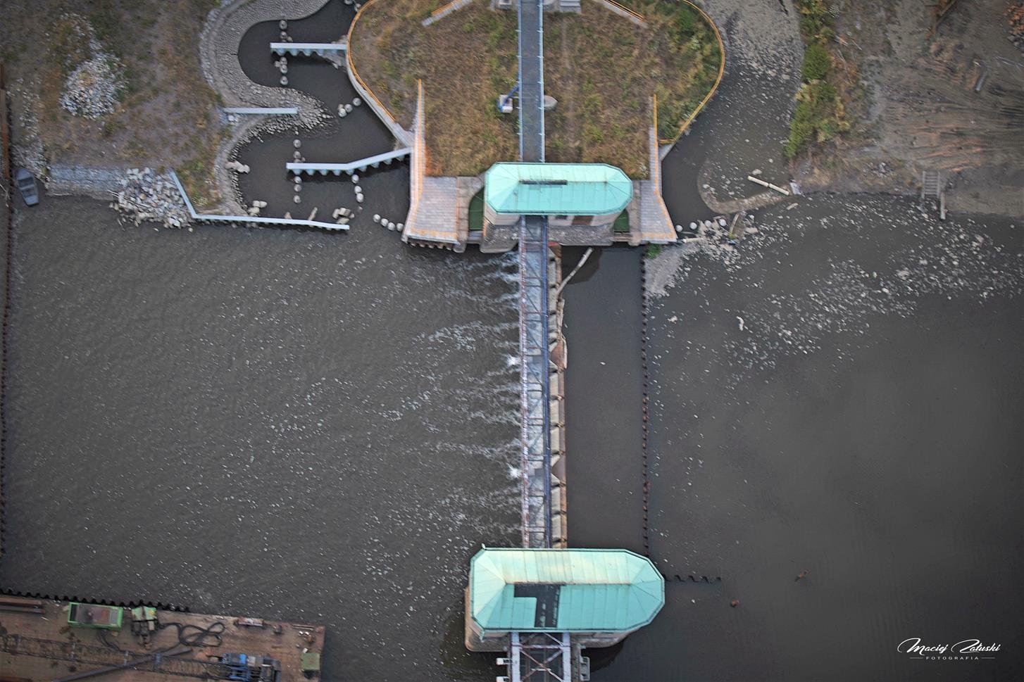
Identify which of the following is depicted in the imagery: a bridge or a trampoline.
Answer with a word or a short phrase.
bridge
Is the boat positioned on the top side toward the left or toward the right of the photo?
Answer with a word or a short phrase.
left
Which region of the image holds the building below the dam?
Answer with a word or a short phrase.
bottom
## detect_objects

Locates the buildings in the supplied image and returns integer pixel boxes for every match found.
[471,546,664,638]
[486,161,632,225]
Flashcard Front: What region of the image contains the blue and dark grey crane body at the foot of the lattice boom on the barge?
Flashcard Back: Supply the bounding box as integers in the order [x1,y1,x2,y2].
[210,654,282,682]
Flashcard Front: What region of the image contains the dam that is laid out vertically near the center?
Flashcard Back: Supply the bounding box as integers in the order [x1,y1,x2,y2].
[548,245,568,550]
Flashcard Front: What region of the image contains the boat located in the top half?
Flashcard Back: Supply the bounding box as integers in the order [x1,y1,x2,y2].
[17,168,39,205]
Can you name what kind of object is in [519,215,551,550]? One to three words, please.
bridge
